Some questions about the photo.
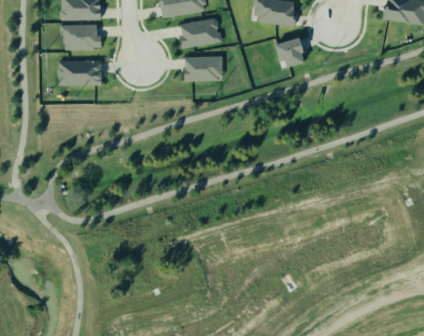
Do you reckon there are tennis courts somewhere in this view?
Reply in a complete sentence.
No, I find no tennis court anywhere in the image.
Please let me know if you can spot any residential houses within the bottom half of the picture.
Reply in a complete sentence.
No, there is no residential house within the bottom half of the picture.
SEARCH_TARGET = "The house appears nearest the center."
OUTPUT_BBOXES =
[184,56,224,81]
